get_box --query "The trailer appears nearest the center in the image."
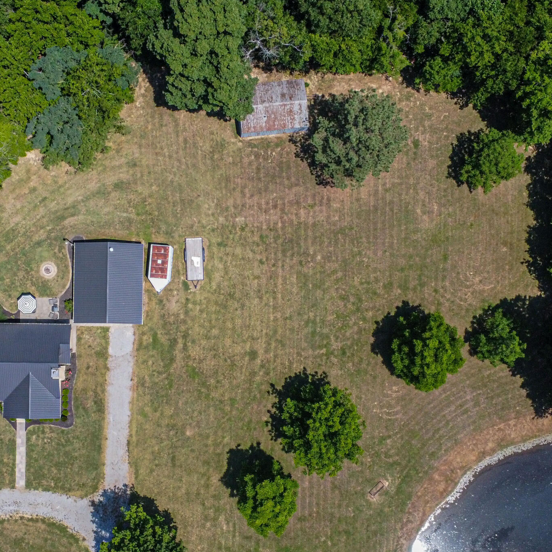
[184,236,205,290]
